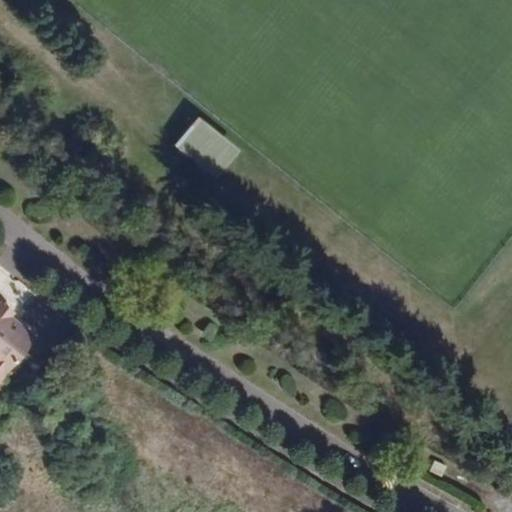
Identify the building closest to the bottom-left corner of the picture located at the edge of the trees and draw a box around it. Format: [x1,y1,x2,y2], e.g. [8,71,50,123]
[0,315,29,384]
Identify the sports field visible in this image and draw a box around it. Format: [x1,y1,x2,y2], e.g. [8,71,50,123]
[76,0,512,308]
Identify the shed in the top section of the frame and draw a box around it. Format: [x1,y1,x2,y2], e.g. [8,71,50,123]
[174,117,240,181]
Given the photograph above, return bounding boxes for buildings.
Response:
[0,315,29,384]
[174,117,240,181]
[429,459,446,476]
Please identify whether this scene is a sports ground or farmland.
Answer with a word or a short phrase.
sports ground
